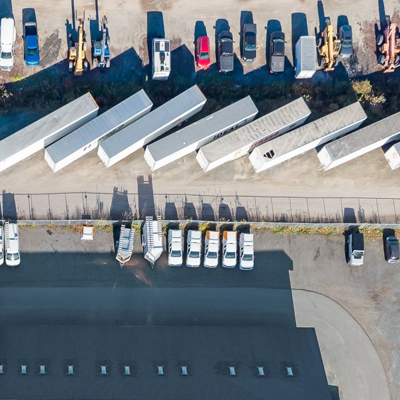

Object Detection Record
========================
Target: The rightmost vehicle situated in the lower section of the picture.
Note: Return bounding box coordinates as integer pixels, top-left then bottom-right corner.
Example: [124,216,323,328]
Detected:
[382,234,400,266]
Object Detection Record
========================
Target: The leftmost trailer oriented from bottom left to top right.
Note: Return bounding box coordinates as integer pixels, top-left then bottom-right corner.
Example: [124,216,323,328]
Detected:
[0,92,98,171]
